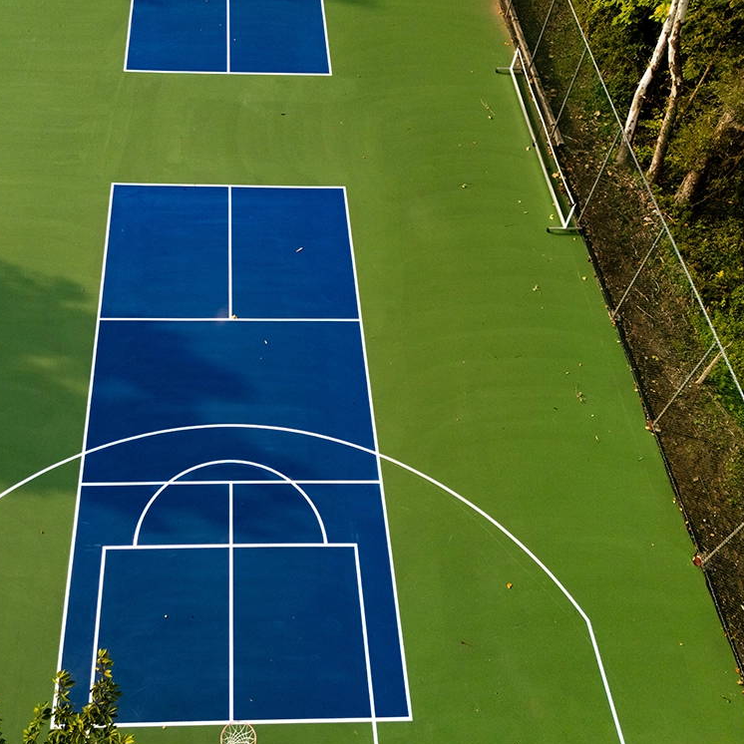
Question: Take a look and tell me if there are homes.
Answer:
No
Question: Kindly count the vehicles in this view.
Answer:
0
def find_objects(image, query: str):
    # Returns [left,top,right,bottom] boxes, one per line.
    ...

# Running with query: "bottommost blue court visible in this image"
[53,184,413,728]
